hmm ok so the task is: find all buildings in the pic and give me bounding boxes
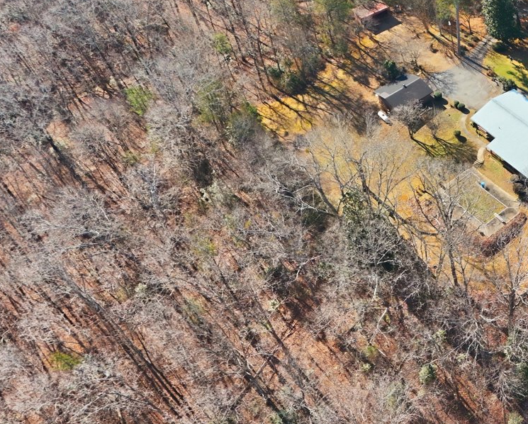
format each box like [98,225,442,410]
[352,0,391,28]
[375,73,433,121]
[470,90,528,183]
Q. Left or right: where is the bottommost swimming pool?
right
